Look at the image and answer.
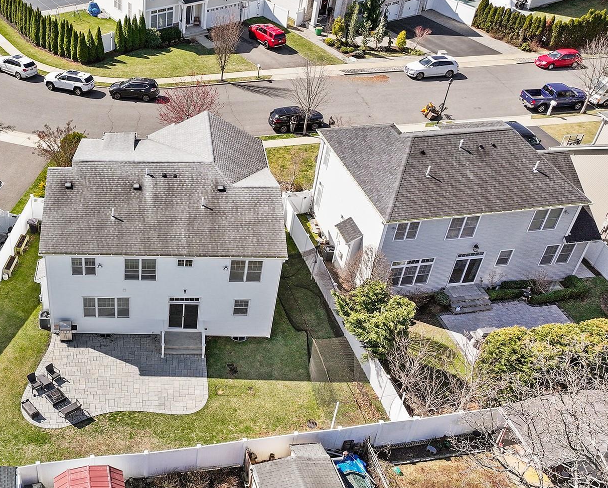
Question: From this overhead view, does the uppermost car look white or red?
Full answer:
In this view, the uppermost car is red.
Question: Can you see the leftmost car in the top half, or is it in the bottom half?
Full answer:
The leftmost car is in the top half of the image.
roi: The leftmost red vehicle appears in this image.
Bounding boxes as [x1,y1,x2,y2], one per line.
[247,22,290,49]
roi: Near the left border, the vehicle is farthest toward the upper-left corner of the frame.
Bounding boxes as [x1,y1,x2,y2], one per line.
[0,50,41,79]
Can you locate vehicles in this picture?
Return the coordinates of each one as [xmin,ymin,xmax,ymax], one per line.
[531,44,589,68]
[500,106,553,152]
[583,70,608,105]
[0,50,41,79]
[517,79,596,111]
[400,49,464,78]
[38,65,98,95]
[103,72,162,100]
[247,22,290,49]
[264,101,330,133]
